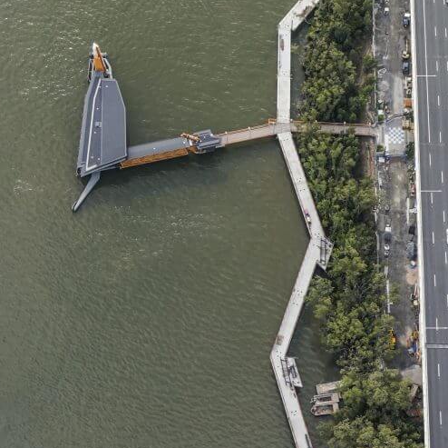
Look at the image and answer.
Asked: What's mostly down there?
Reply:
water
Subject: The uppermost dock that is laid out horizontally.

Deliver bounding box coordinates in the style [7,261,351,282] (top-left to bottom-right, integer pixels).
[217,125,275,148]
